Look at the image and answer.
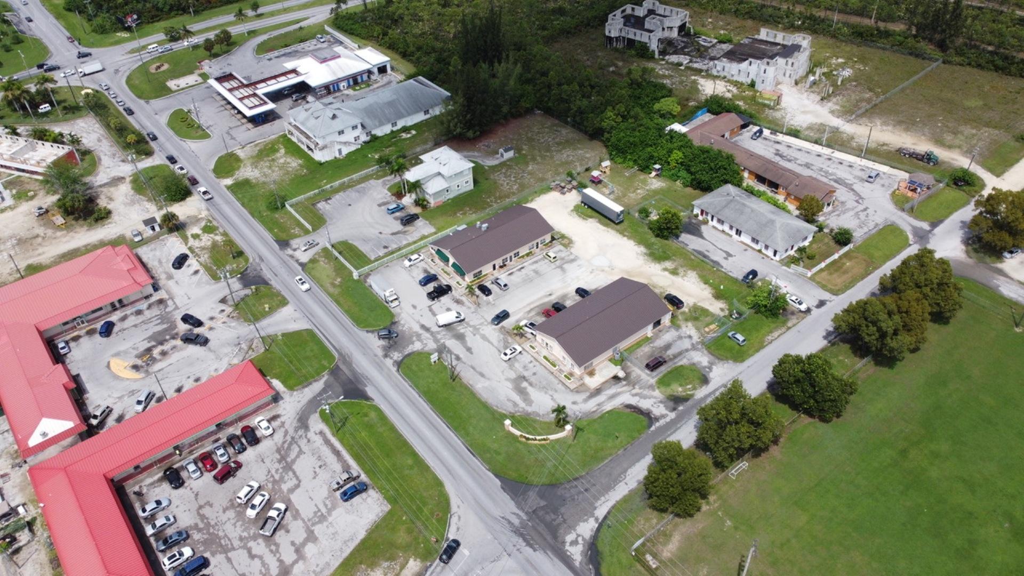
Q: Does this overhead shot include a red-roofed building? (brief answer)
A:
Yes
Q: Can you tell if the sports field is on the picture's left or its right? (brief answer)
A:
right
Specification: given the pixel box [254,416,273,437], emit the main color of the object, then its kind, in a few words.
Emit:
white car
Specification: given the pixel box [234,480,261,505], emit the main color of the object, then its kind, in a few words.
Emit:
white car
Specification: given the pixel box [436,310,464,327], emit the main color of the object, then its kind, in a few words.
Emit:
white vehicle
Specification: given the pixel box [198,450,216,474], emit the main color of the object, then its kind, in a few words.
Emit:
red car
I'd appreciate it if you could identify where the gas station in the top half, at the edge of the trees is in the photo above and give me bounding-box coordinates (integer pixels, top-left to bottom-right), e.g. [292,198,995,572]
[199,46,391,124]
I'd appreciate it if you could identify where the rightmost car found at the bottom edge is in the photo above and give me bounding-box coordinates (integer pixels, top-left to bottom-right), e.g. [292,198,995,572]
[438,537,461,566]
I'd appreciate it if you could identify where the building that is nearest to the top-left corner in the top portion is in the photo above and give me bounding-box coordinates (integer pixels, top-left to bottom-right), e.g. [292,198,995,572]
[0,135,79,180]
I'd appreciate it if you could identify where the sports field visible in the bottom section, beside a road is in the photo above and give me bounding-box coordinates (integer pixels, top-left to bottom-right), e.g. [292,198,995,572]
[594,284,1024,576]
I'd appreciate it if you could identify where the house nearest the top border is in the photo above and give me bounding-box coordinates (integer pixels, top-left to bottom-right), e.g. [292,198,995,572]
[604,0,689,58]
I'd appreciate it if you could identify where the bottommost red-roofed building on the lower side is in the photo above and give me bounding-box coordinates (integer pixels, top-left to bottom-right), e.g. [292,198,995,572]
[29,361,281,576]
